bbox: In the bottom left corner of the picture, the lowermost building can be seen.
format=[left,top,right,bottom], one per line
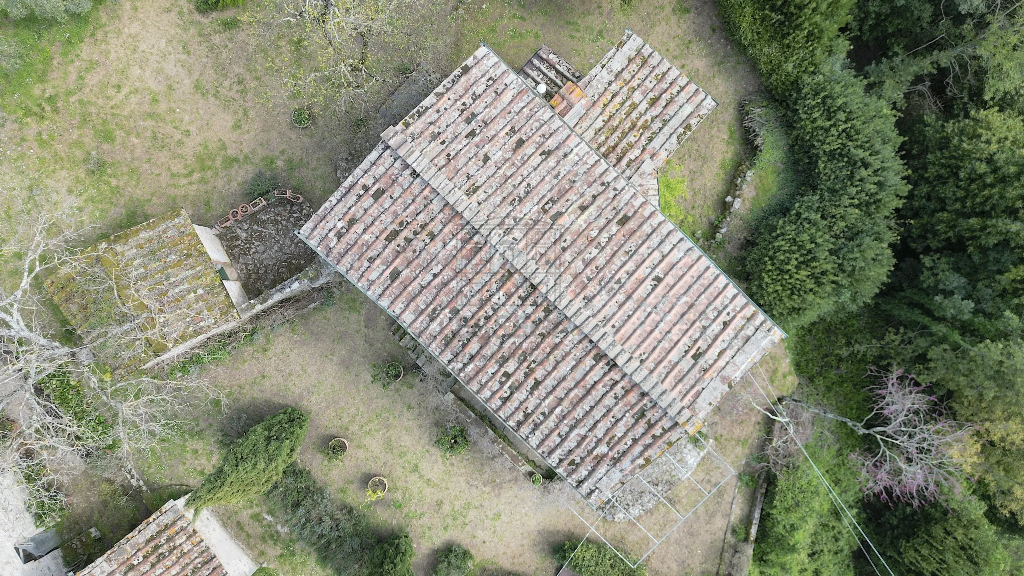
[63,492,272,576]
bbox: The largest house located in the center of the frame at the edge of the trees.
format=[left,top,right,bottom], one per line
[294,41,792,513]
